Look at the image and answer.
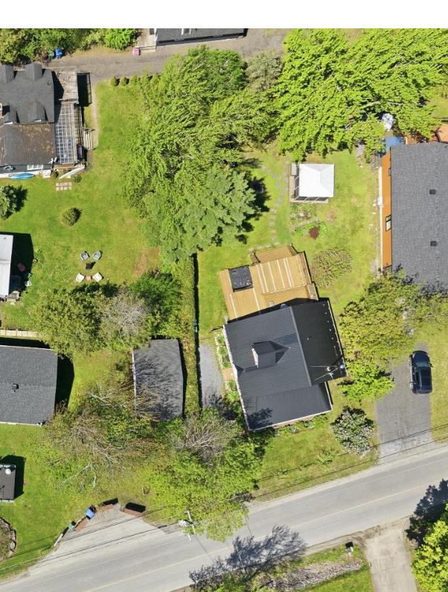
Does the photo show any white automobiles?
No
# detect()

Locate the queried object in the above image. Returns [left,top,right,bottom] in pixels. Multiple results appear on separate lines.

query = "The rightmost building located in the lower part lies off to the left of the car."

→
[219,299,348,429]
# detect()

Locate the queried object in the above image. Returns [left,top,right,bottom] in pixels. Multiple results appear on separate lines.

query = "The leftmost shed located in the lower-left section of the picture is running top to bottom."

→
[0,463,17,502]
